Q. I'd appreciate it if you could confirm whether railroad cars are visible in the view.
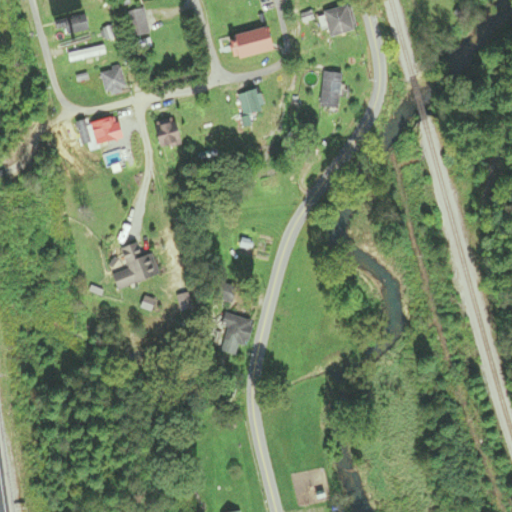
No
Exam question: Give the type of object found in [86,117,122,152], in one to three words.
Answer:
house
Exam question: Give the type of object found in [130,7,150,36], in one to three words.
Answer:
house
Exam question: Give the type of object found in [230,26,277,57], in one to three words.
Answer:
building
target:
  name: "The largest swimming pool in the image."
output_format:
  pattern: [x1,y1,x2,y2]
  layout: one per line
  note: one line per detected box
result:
[104,149,123,166]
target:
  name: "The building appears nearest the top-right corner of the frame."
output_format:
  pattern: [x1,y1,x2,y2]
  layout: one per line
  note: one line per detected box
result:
[318,3,355,34]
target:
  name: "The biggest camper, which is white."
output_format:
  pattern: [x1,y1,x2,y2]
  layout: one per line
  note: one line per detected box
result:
[118,223,130,245]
